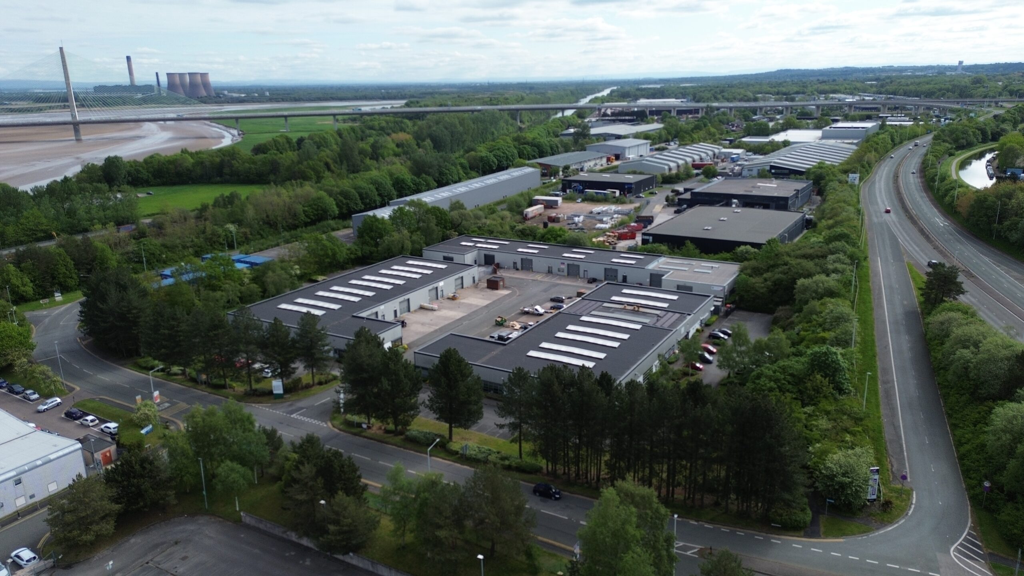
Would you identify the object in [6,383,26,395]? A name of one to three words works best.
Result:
vehicle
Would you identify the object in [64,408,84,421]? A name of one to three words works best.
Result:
vehicle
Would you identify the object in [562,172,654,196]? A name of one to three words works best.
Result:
building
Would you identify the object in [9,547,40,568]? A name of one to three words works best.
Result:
car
